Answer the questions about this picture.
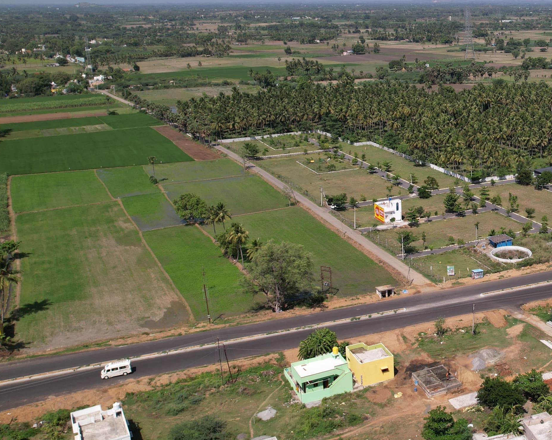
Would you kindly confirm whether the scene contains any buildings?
Yes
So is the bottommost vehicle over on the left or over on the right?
left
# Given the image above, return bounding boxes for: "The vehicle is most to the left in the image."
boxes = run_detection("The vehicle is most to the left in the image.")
[98,357,132,379]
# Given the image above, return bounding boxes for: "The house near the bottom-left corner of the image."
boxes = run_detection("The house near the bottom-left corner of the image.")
[64,398,133,440]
